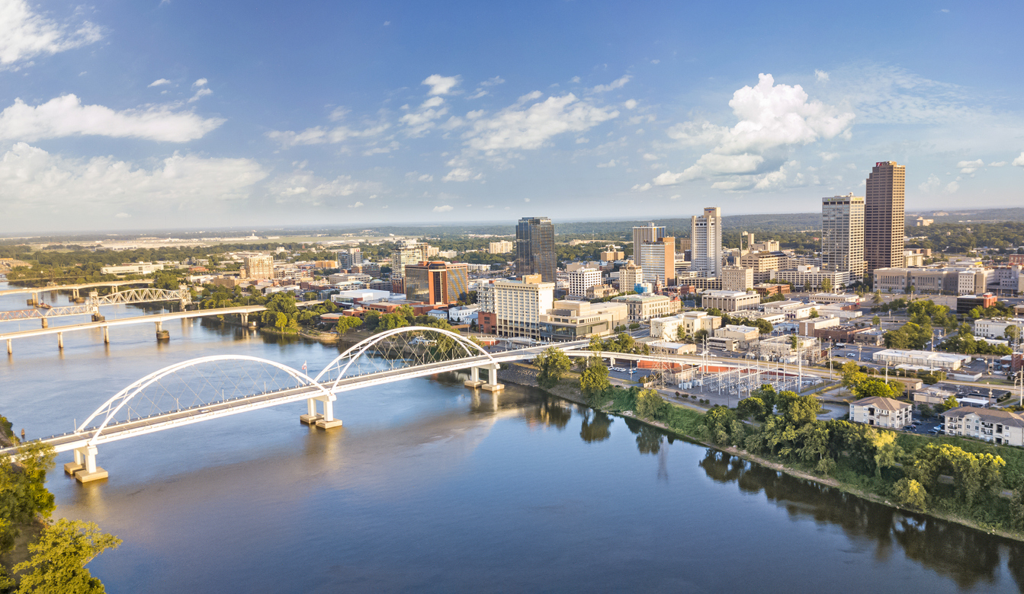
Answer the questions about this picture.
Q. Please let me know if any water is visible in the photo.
Yes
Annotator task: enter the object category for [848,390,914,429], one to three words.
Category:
house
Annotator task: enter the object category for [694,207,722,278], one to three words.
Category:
building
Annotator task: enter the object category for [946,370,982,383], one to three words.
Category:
building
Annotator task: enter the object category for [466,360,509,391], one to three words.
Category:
pier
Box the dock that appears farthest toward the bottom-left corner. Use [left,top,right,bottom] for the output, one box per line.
[63,441,110,484]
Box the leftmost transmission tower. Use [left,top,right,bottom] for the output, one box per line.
[654,338,670,386]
